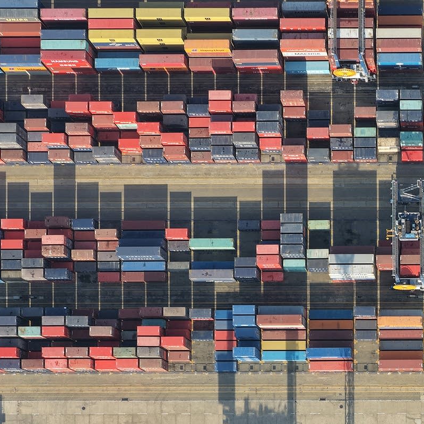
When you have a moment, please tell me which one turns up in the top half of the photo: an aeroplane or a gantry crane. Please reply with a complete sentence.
Visible in the top half of the photo is a gantry crane.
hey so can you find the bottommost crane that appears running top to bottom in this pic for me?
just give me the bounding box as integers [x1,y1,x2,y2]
[387,178,424,296]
